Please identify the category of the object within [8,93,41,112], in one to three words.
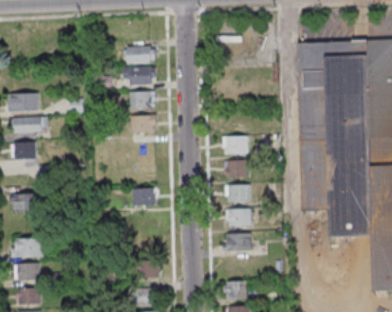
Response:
house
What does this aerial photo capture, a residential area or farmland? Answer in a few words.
residential area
